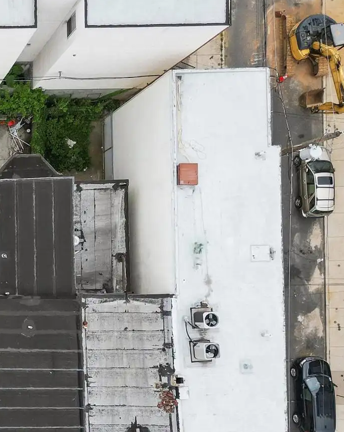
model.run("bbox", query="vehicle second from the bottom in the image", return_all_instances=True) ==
[292,148,336,220]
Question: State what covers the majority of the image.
buildings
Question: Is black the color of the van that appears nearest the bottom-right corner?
Yes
